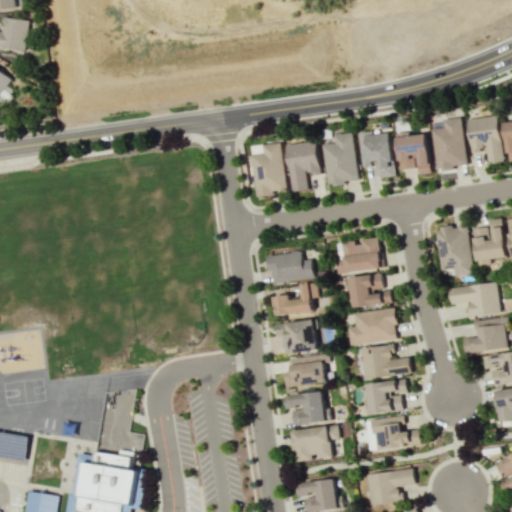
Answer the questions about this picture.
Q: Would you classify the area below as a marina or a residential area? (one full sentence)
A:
This image shows a residential area.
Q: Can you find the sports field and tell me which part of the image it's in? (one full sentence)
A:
The sports field sits in the left section of the image.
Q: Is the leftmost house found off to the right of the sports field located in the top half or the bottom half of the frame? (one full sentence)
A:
The top half of the photo is where the leftmost house found off to the right of the sports field is.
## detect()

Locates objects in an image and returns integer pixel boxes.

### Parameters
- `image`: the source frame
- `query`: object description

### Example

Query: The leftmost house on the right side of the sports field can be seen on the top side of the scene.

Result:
[250,142,288,199]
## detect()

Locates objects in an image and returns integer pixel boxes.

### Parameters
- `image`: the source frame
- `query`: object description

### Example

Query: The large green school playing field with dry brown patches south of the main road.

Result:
[0,151,227,378]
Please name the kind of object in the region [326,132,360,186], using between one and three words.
house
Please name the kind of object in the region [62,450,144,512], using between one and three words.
building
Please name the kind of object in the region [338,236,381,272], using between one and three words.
house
